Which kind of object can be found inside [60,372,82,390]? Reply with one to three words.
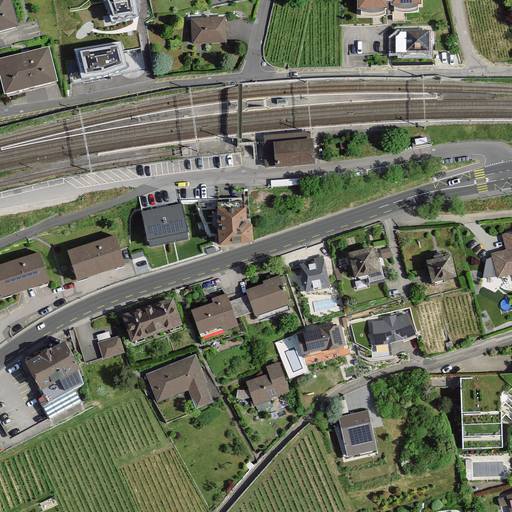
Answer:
solar panel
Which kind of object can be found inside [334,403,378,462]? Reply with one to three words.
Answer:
house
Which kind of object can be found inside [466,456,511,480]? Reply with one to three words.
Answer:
swimming pool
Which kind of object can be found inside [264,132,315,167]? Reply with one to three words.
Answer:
building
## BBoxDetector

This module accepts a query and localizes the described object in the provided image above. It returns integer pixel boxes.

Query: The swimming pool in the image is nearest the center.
[312,297,338,312]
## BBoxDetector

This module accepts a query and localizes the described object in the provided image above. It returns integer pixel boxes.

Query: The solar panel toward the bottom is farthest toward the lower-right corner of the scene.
[348,424,372,445]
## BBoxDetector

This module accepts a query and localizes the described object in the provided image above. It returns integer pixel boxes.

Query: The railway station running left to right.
[2,92,512,154]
